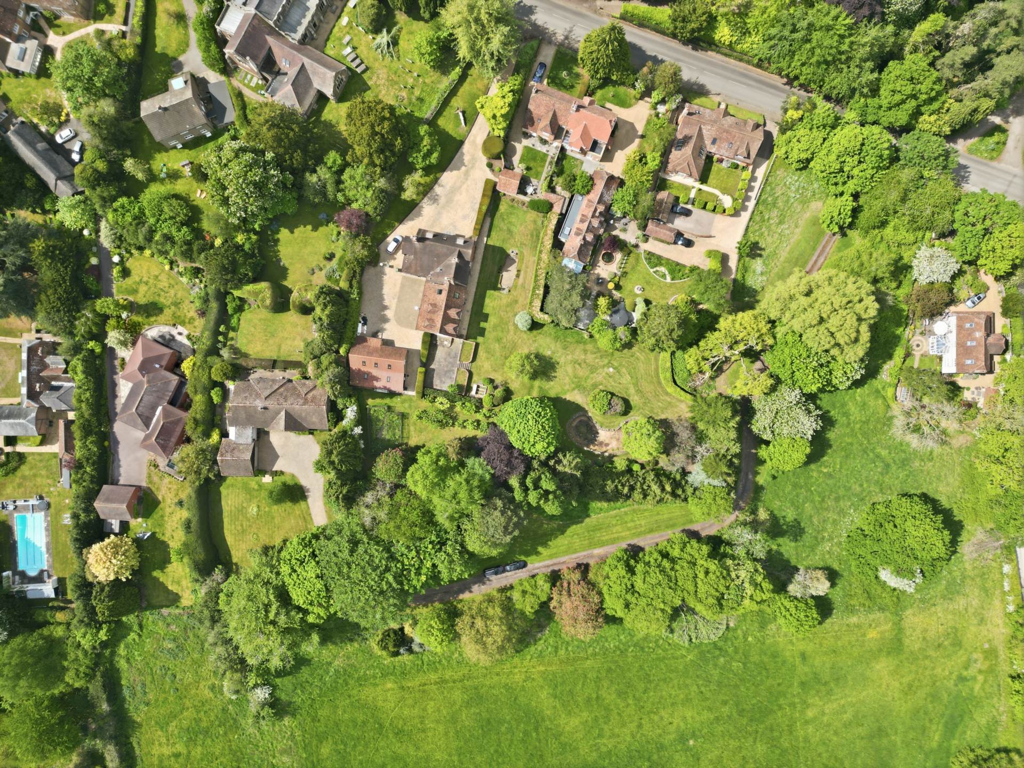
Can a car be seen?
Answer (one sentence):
Yes, a car can be made out from above.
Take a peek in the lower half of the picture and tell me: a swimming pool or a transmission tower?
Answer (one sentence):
It is a swimming pool that can be seen in the lower half of the picture.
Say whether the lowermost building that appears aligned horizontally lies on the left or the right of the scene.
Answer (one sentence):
The lowermost building that appears aligned horizontally sits on the left side.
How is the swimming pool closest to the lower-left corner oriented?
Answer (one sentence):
In this picture, the swimming pool closest to the lower-left corner lies up and down.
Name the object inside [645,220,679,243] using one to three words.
shed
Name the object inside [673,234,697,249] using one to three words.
car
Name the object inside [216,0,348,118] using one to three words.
building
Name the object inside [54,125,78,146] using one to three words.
car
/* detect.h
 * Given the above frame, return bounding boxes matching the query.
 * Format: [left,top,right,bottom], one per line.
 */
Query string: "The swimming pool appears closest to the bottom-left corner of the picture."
[13,512,47,577]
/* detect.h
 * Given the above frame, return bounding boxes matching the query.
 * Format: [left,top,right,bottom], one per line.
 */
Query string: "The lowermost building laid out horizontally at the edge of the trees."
[12,575,66,599]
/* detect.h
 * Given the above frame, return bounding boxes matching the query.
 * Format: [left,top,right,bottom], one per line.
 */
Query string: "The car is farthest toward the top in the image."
[532,61,547,85]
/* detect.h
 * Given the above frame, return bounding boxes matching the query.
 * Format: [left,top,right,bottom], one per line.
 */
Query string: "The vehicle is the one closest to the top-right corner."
[964,290,988,309]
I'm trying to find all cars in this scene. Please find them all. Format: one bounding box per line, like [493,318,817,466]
[384,233,405,257]
[964,290,988,309]
[71,139,86,163]
[54,125,78,146]
[673,234,697,249]
[504,559,527,573]
[532,61,547,85]
[483,564,506,579]
[669,204,693,219]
